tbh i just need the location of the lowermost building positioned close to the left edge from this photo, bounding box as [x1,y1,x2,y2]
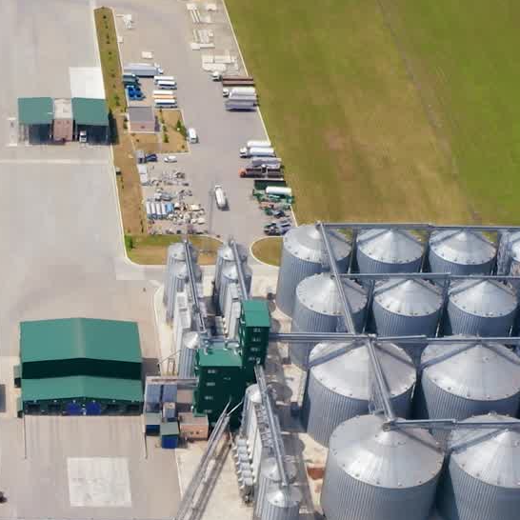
[13,317,143,414]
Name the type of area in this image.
industrial area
